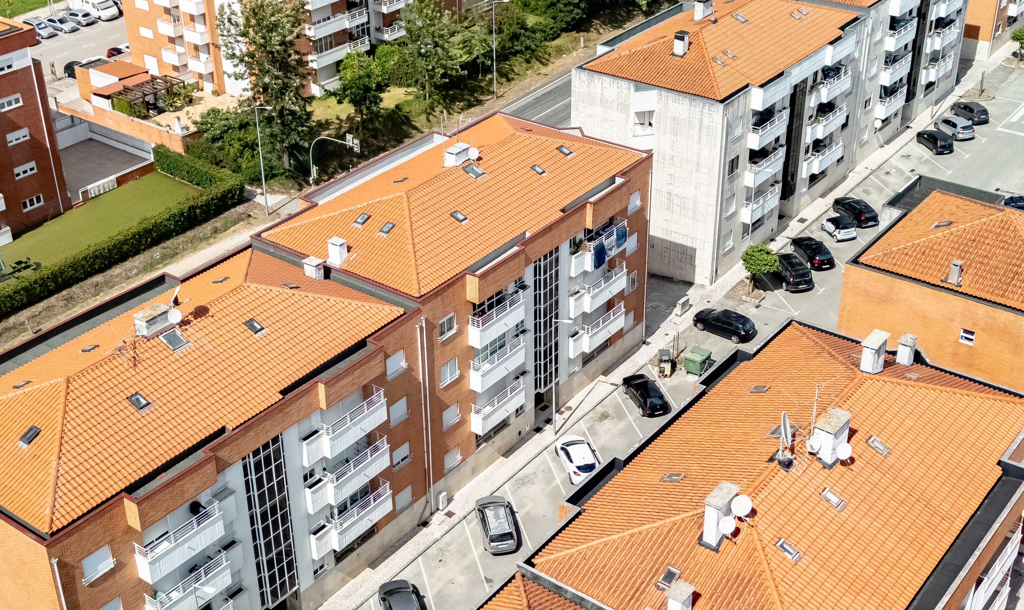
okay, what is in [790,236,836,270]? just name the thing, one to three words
car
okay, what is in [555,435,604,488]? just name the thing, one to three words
car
